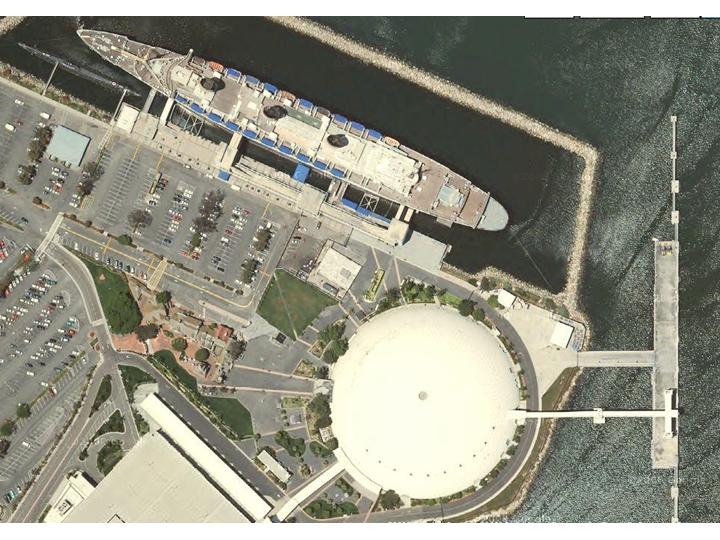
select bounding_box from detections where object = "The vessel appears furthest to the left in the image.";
[22,46,132,93]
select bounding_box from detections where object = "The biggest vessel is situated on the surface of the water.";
[76,25,508,231]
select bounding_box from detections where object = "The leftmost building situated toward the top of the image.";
[48,124,91,167]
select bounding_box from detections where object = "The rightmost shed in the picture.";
[550,322,573,349]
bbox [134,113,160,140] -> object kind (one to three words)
building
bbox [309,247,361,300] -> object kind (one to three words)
building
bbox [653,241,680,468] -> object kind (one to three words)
pier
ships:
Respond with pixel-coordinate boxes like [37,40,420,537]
[22,46,132,93]
[76,25,508,231]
